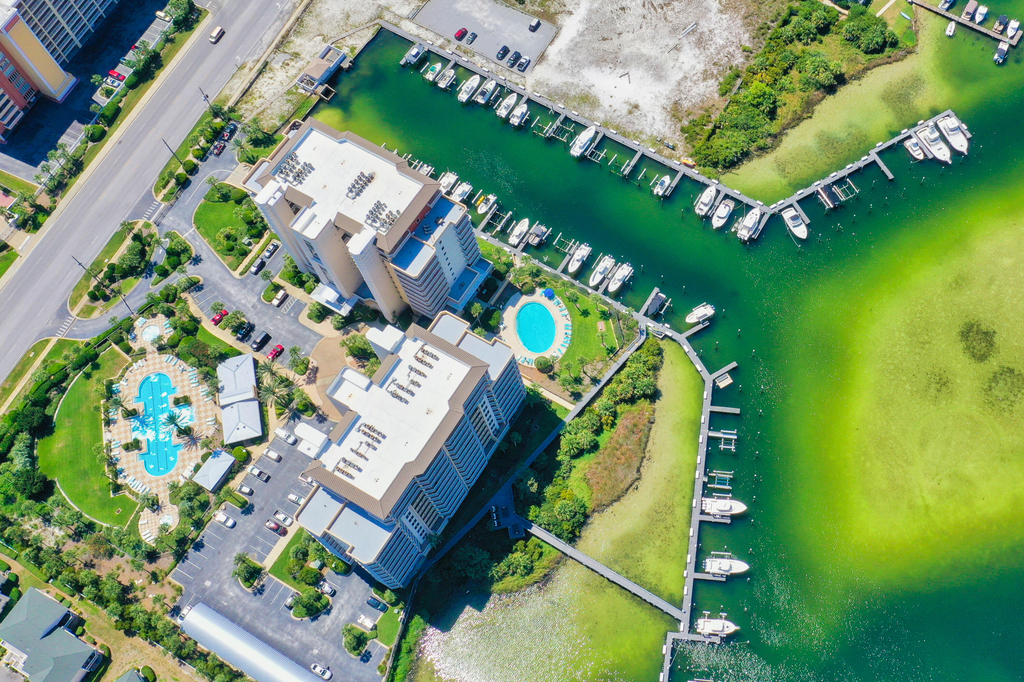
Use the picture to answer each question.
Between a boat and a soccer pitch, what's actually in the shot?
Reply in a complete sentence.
I can see a boat in this picture.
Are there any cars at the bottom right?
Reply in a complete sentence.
No, looking at the bottom right, there is no car.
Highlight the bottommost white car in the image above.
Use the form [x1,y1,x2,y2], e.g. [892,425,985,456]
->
[310,662,333,682]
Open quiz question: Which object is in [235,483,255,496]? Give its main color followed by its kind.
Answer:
white vehicle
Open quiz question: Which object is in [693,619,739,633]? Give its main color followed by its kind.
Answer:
white boat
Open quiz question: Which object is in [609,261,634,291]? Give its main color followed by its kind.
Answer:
white boat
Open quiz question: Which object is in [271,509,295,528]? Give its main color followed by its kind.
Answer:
white vehicle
